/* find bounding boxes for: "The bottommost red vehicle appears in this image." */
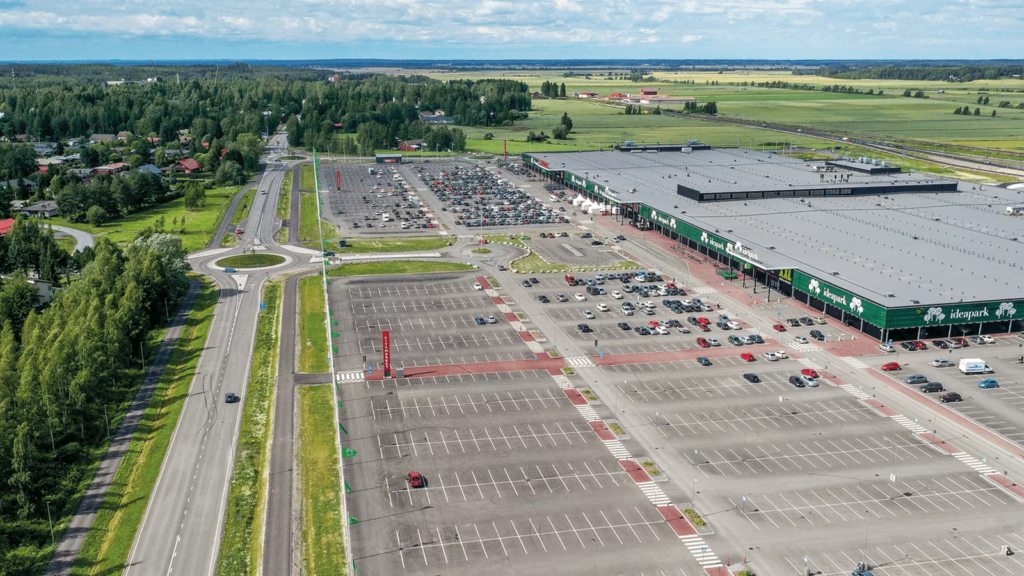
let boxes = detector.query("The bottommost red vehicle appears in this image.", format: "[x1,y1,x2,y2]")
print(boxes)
[405,473,425,490]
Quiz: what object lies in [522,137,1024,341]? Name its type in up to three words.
building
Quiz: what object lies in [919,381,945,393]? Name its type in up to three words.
vehicle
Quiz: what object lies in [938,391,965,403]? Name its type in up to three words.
vehicle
